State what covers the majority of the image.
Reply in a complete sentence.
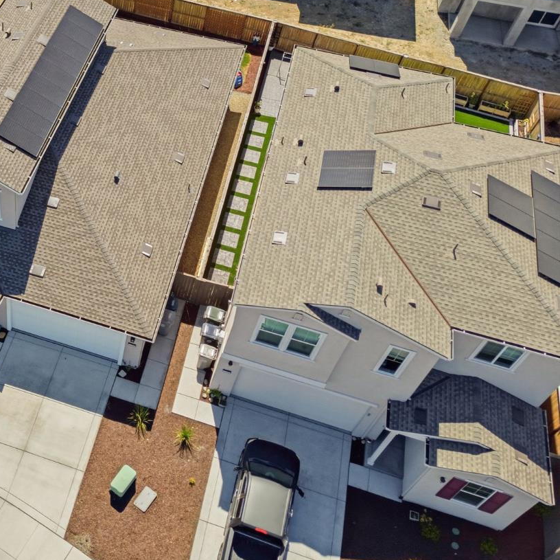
The bulk of the photo consists of buildings.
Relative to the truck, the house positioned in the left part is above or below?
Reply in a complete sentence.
The house positioned in the left part appears above the truck in the picture.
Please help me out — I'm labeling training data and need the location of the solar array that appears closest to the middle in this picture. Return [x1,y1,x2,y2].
[316,150,375,190]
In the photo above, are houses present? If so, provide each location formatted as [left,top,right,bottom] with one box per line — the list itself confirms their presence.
[0,0,246,368]
[209,45,560,531]
[436,0,560,52]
